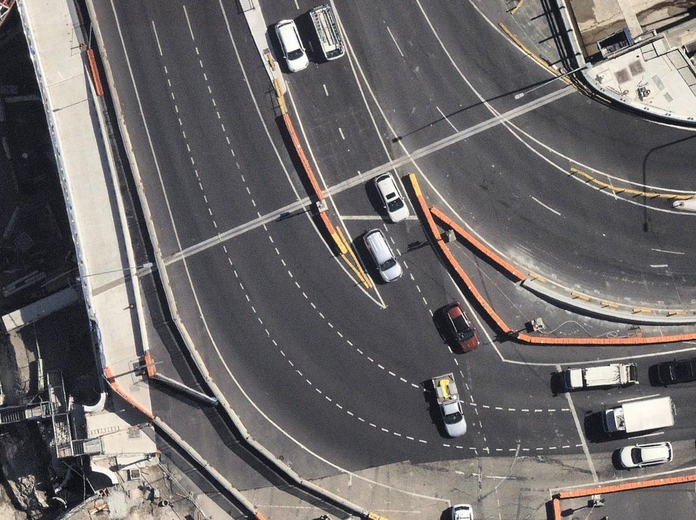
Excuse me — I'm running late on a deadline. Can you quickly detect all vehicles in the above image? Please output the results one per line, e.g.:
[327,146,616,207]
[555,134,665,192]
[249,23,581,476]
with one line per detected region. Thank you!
[375,171,409,225]
[309,2,349,63]
[275,17,309,74]
[656,362,696,387]
[620,444,675,471]
[452,504,475,520]
[366,226,402,285]
[602,399,679,436]
[445,300,482,355]
[436,372,468,439]
[562,362,640,394]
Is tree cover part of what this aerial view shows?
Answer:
No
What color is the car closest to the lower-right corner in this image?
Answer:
white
